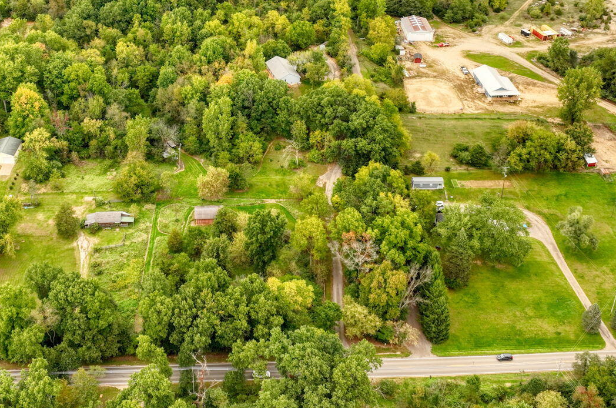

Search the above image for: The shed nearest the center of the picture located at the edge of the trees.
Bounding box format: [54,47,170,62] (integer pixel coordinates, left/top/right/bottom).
[194,207,222,226]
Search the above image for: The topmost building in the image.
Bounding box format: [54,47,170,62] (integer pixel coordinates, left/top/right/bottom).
[399,12,435,41]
